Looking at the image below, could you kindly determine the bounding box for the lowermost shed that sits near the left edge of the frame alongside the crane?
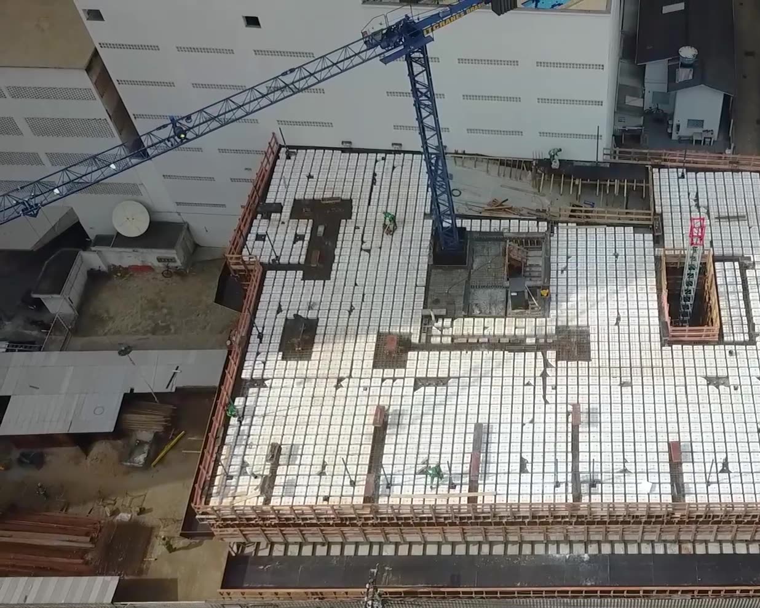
[0,331,227,441]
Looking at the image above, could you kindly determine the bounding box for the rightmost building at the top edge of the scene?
[632,0,735,141]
